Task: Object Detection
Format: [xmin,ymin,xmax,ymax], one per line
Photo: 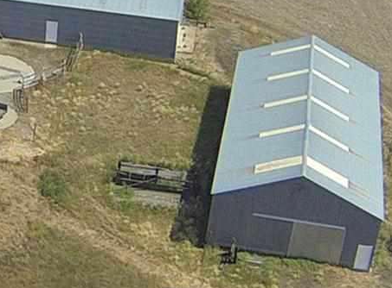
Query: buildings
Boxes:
[205,36,384,274]
[0,0,189,63]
